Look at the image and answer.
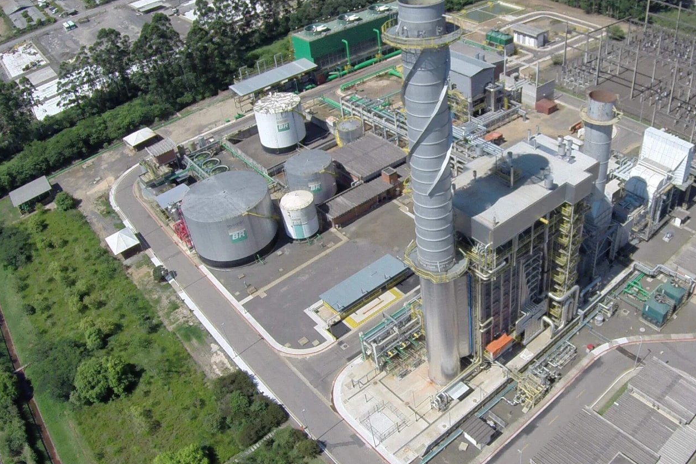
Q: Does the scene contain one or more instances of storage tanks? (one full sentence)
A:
Yes, you can see a storage tank in this photo.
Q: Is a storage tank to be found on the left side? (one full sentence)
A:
Yes, a storage tank can be seen on the left side.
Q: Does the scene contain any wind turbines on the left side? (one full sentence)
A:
No, there's no wind turbine to be seen on the left side.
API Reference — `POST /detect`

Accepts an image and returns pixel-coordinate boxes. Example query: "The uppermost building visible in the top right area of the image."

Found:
[513,22,547,45]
